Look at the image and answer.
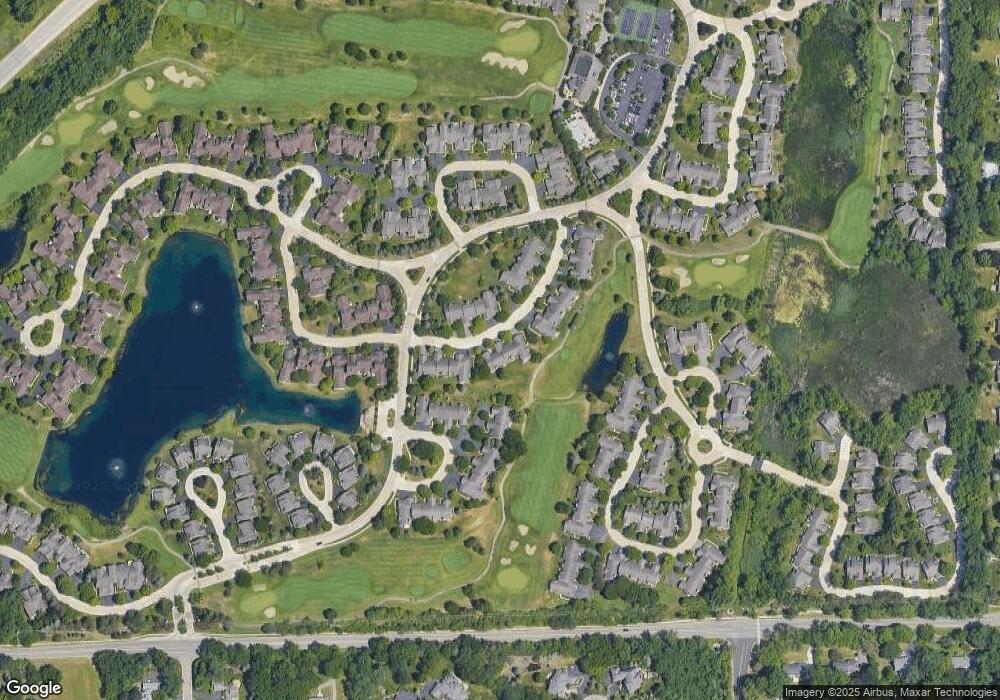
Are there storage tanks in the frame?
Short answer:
No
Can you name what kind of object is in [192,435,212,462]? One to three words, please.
house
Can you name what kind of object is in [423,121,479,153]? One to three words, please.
house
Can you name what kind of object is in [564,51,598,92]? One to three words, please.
building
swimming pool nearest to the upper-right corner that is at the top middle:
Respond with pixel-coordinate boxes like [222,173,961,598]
[566,110,599,149]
